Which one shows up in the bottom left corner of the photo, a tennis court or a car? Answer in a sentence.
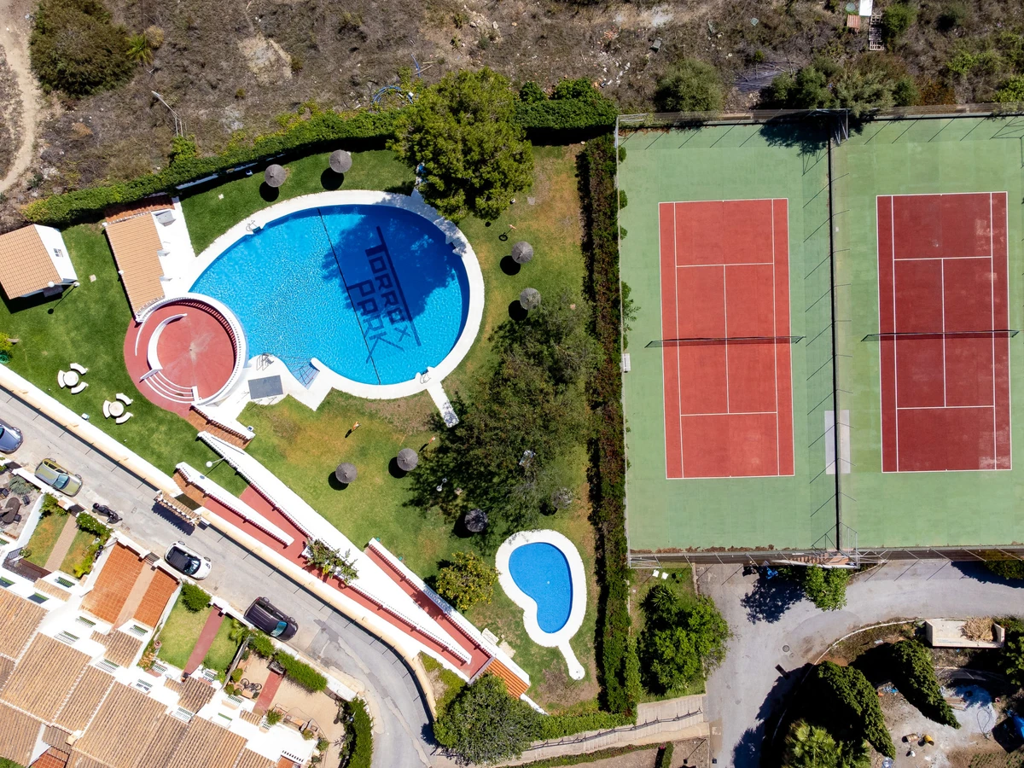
The feature located in the bottom left corner of the photo is a car.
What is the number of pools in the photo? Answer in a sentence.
The photo contains 2 pools.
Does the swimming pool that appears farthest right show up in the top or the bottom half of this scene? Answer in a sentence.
Seen from above, the swimming pool that appears farthest right lies in the bottom half of the view.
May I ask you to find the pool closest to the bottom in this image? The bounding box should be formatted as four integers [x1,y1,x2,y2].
[497,530,587,679]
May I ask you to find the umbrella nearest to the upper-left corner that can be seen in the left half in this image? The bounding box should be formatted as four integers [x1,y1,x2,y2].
[263,164,287,189]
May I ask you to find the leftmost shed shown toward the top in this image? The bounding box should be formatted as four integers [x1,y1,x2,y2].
[0,225,82,299]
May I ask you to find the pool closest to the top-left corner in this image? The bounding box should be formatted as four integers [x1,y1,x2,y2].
[167,189,483,438]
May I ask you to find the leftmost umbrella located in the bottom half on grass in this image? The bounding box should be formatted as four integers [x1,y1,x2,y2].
[335,462,358,486]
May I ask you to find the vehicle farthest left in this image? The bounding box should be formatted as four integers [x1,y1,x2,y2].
[0,422,25,452]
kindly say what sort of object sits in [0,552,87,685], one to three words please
house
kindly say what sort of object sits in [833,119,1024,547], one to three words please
tennis court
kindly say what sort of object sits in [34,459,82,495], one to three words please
car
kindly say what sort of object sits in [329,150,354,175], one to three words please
umbrella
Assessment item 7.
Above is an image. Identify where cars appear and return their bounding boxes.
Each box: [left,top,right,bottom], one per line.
[34,459,82,495]
[166,543,212,577]
[0,422,25,452]
[245,600,297,640]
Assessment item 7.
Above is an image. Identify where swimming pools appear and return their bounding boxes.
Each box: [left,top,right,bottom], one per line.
[167,189,483,438]
[497,530,587,679]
